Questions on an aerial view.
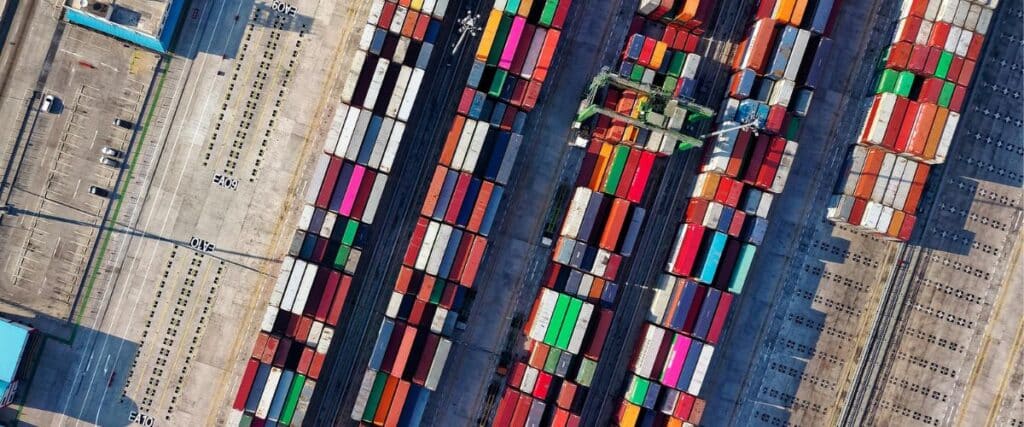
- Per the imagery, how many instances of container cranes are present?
1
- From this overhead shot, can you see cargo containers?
Yes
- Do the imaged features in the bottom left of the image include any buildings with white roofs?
No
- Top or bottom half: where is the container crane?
top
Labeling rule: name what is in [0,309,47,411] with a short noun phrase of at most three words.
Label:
building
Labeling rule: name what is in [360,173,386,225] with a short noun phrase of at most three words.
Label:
shipping container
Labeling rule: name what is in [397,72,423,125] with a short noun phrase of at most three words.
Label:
shipping container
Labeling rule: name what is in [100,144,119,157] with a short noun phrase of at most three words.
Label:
vehicle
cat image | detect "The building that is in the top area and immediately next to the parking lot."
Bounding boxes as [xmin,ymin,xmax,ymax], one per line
[62,0,188,54]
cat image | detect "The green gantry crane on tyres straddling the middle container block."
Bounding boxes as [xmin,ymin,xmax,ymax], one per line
[567,66,716,163]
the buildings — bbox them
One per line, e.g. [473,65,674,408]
[62,0,188,54]
[0,309,47,411]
